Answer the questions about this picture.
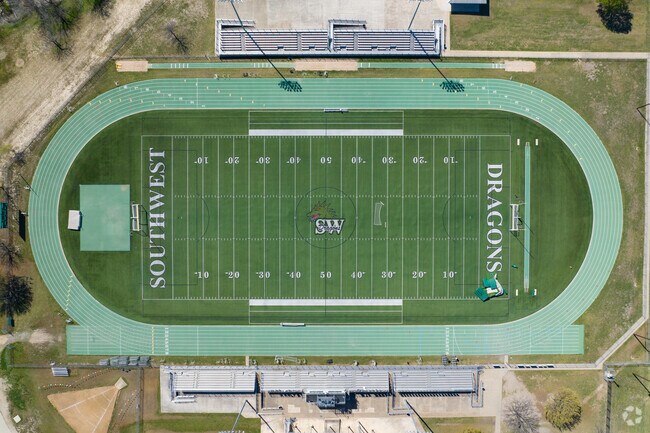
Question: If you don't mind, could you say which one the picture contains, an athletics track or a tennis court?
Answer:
athletics track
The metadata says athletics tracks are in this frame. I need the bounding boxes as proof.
[27,78,624,356]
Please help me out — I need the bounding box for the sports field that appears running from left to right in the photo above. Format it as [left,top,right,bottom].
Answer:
[58,109,593,325]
